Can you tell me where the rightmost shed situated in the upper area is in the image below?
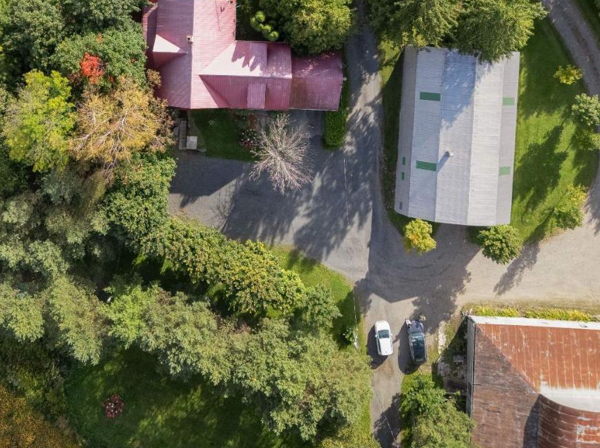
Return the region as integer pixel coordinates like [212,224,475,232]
[393,49,522,226]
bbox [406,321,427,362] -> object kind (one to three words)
car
